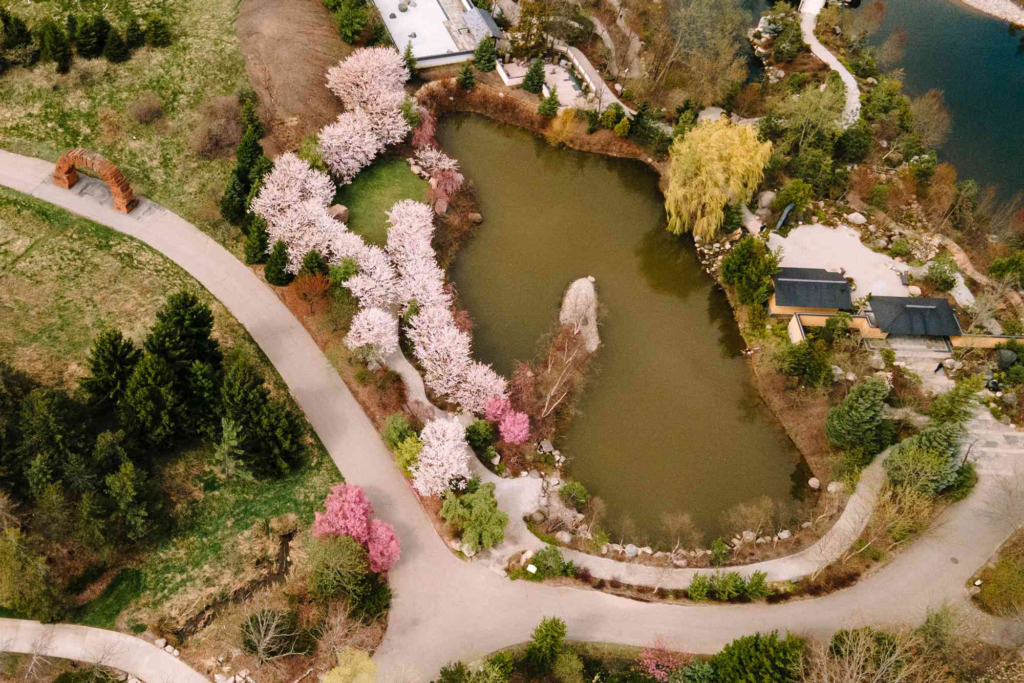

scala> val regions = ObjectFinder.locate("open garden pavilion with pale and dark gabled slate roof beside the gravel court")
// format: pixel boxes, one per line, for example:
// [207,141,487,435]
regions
[462,5,503,58]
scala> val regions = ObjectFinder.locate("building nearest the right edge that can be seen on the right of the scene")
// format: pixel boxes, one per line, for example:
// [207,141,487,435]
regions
[870,296,964,360]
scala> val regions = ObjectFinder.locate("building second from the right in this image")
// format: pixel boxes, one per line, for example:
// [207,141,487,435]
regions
[768,268,852,330]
